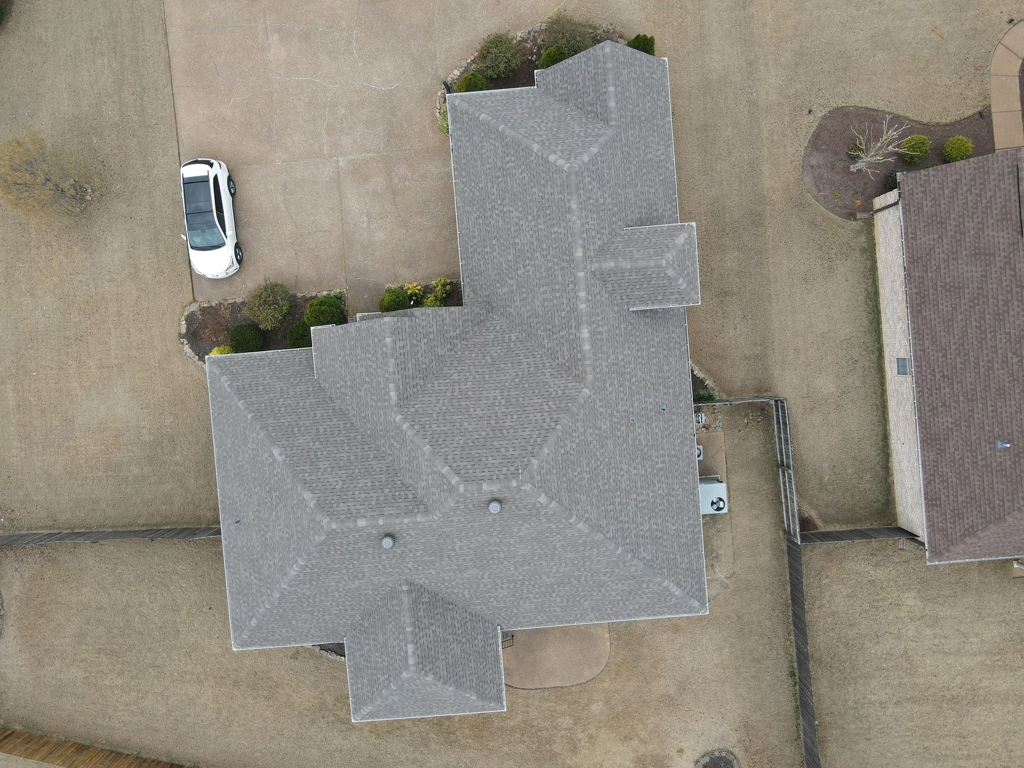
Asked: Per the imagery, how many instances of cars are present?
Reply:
one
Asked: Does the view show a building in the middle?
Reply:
Yes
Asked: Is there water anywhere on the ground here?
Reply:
No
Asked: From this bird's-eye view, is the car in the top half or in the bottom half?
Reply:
top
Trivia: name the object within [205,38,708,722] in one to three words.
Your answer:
house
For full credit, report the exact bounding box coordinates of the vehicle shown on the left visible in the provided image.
[177,158,242,279]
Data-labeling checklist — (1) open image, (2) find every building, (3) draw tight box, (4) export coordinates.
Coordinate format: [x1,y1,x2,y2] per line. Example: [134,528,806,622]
[205,38,708,722]
[869,149,1024,579]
